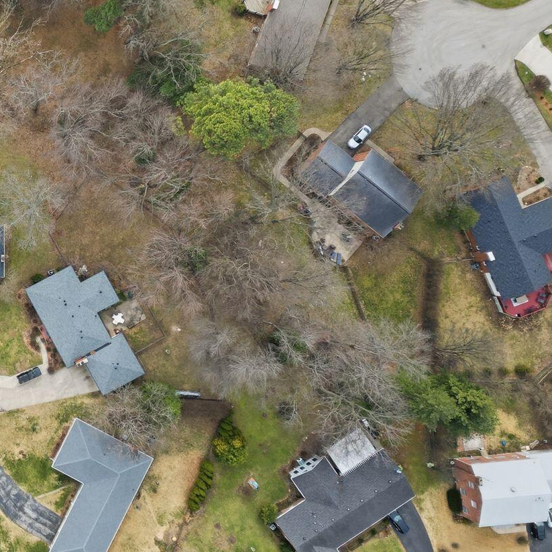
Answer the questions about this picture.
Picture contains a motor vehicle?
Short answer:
Yes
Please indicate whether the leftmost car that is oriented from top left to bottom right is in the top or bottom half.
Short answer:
bottom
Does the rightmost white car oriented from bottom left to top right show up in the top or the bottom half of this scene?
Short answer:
top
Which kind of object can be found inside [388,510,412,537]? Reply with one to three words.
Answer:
car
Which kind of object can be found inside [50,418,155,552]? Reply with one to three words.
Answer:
house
